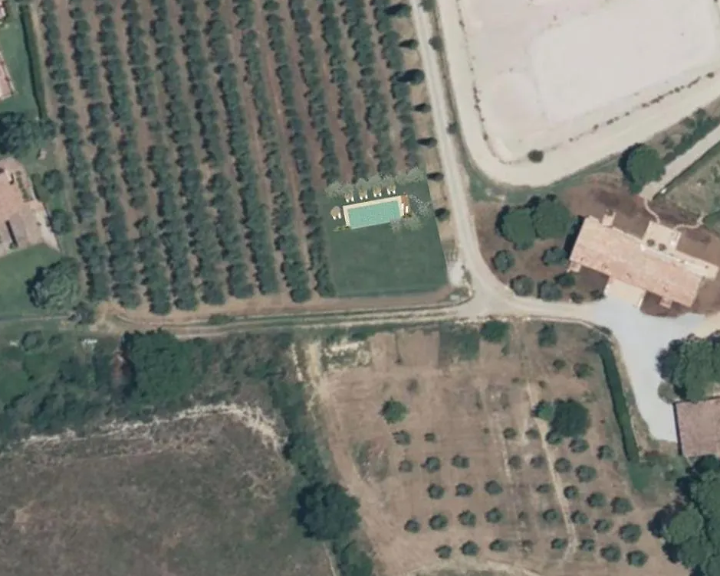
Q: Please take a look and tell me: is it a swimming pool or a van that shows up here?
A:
swimming pool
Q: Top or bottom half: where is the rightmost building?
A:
bottom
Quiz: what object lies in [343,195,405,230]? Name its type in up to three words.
swimming pool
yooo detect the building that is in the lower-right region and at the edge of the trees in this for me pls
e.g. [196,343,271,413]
[676,399,720,457]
